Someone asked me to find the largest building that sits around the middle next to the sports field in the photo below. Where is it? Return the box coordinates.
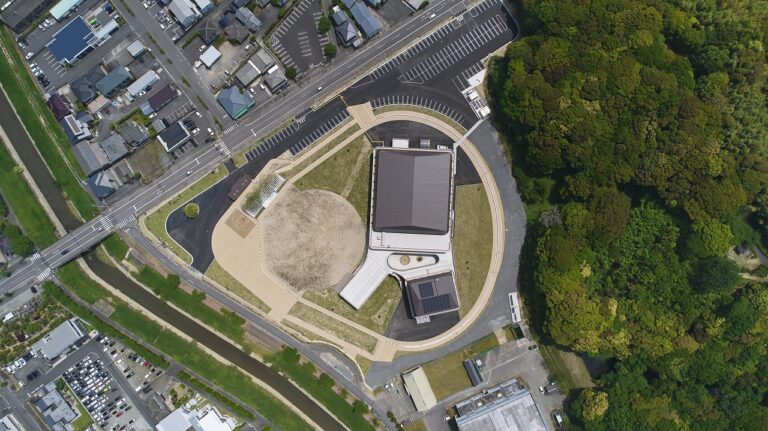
[370,147,454,238]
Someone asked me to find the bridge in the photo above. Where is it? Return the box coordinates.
[37,212,118,272]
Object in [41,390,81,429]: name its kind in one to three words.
building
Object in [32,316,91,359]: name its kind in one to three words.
building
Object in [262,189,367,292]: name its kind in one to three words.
sports field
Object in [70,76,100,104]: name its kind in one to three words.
house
